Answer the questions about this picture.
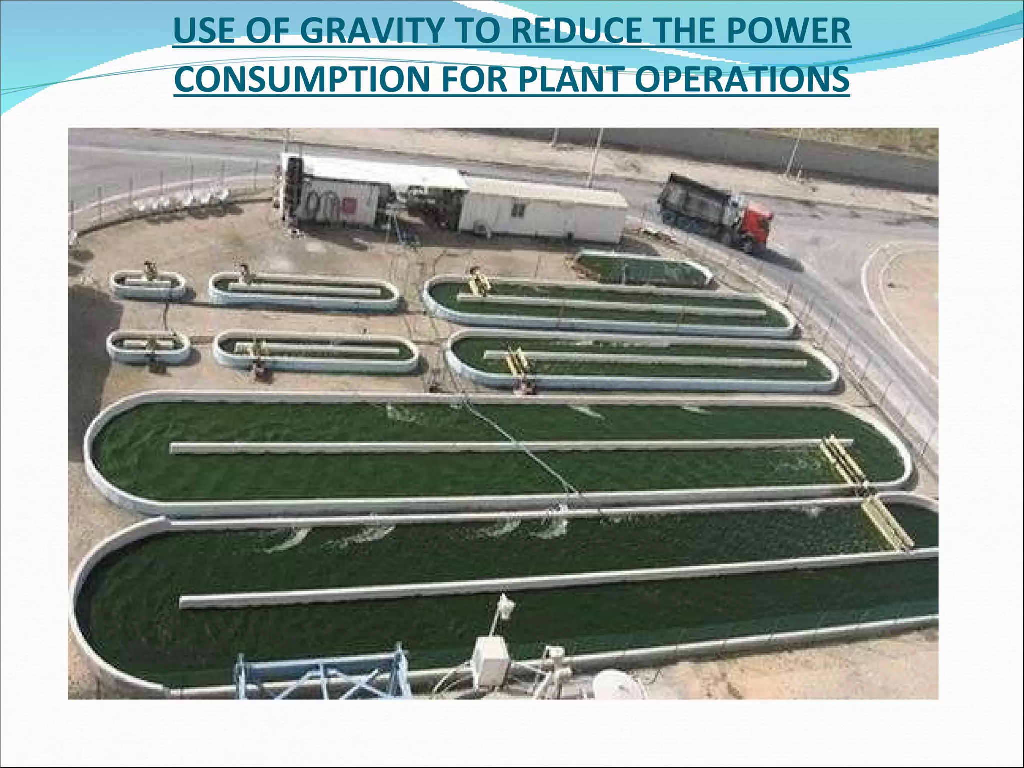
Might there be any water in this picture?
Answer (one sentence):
Yes, there is water in the image.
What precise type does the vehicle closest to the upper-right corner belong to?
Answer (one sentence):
The vehicle closest to the upper-right corner appears to be a truck.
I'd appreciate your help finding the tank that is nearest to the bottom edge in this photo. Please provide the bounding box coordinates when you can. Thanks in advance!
[579,251,716,291]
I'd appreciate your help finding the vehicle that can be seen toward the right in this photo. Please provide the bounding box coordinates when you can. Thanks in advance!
[660,176,778,253]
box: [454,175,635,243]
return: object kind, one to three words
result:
building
